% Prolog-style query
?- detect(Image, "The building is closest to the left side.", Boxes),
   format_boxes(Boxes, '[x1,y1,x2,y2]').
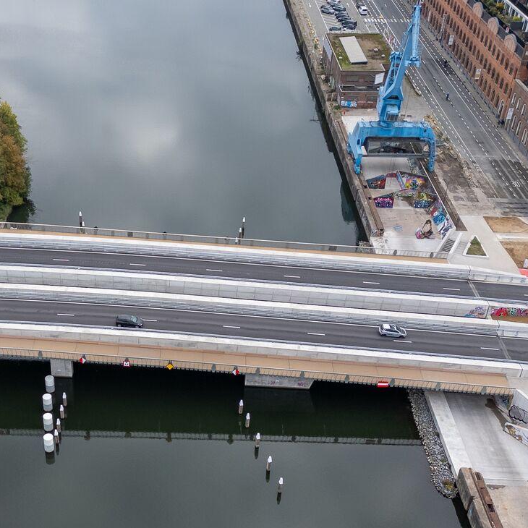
[321,31,387,107]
